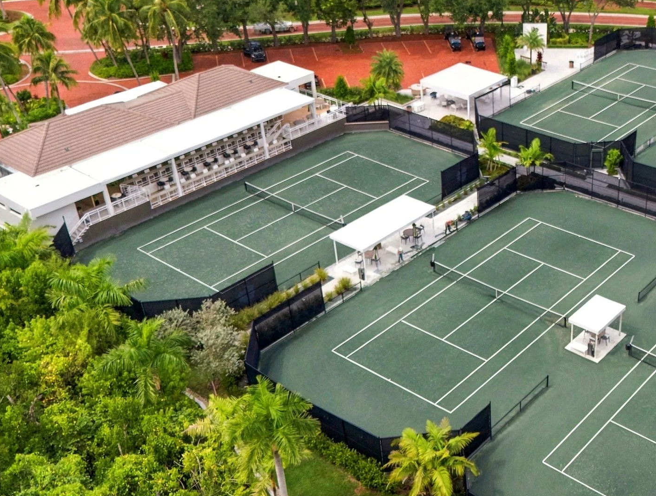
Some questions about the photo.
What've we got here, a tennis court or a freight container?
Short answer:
tennis court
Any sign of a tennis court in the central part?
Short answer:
Yes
